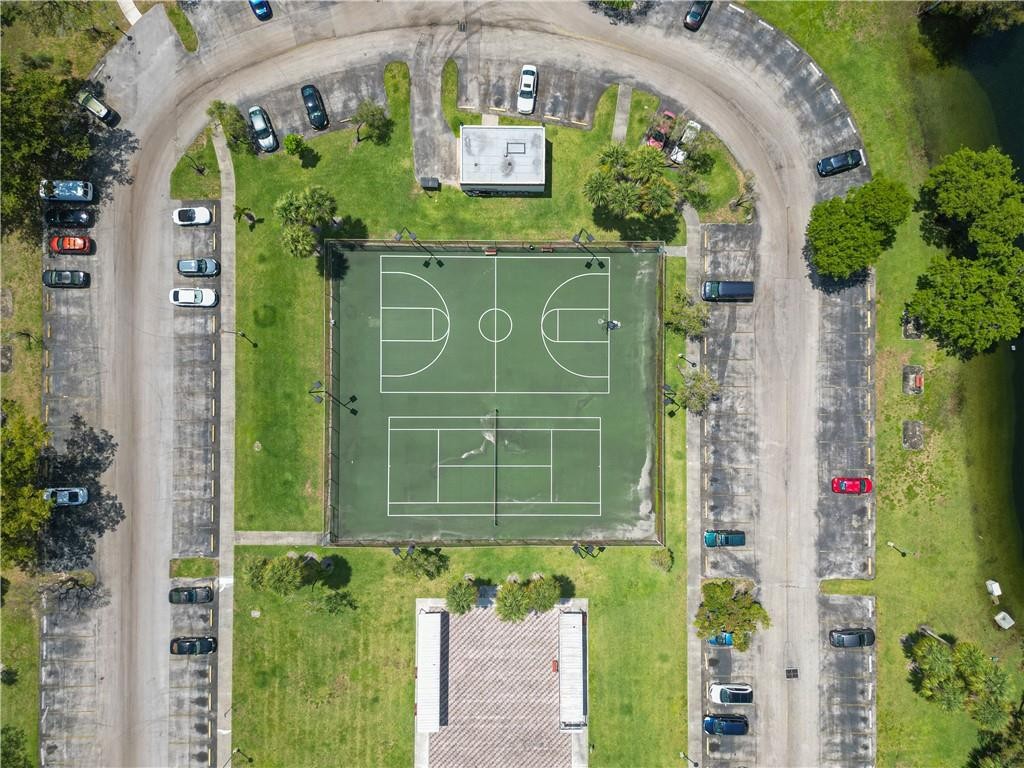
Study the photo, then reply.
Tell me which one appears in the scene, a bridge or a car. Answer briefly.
car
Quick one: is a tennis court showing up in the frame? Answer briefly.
Yes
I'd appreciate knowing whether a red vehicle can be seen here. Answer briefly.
Yes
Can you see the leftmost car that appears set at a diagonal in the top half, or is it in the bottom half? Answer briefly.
top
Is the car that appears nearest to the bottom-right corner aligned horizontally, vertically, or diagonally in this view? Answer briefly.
horizontally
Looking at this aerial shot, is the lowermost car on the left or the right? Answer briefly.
right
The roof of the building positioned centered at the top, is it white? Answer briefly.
Yes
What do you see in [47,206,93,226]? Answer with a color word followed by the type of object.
black car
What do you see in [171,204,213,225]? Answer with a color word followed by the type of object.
white car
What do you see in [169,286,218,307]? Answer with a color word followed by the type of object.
white car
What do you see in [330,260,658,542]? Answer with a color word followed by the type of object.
green tennis court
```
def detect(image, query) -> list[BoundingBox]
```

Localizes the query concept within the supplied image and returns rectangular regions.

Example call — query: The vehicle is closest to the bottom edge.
[704,714,748,737]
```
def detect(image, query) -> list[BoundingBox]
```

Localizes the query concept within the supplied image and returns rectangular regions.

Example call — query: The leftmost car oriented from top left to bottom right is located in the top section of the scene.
[79,90,123,129]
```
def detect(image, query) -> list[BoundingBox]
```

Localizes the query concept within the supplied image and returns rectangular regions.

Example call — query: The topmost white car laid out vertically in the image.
[516,65,537,114]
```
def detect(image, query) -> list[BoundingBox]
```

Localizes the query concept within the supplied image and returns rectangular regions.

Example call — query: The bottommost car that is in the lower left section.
[171,635,218,658]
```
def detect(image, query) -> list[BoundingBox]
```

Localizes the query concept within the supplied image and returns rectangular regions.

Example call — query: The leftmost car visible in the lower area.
[46,486,88,507]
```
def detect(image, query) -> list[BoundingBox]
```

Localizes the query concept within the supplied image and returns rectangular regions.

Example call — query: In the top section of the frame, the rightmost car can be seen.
[815,150,861,177]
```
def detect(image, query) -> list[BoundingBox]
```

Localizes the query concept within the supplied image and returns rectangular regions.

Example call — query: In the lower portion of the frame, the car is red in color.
[833,476,872,496]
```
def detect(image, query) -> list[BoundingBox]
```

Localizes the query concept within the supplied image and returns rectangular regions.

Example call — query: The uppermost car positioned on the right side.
[685,0,714,31]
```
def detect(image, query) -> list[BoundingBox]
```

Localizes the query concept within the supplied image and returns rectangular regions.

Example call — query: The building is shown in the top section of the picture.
[460,126,545,192]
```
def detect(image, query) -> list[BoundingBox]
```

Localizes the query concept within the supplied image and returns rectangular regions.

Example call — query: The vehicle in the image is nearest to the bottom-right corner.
[830,626,874,648]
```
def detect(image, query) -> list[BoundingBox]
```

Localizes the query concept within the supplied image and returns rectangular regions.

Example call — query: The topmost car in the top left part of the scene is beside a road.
[250,0,272,20]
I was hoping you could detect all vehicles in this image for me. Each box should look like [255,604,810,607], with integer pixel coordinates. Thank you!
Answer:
[701,279,756,302]
[47,206,93,226]
[248,106,278,153]
[169,286,218,307]
[46,486,88,507]
[833,476,872,496]
[709,682,753,706]
[250,0,272,20]
[516,65,537,114]
[704,714,748,737]
[171,204,213,225]
[52,234,91,254]
[178,256,221,277]
[171,635,218,658]
[703,529,745,549]
[702,627,742,648]
[42,179,93,202]
[685,0,714,31]
[815,150,861,177]
[301,84,330,131]
[45,268,90,289]
[830,626,874,648]
[644,108,674,148]
[169,585,215,606]
[79,90,123,129]
[669,120,703,165]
